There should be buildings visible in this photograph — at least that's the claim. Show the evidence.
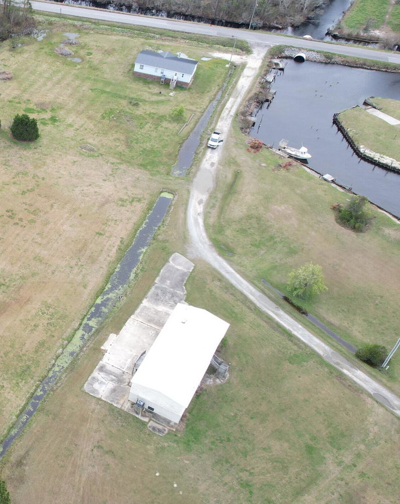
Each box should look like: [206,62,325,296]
[134,49,199,87]
[128,304,228,426]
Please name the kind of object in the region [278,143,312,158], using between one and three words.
boat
